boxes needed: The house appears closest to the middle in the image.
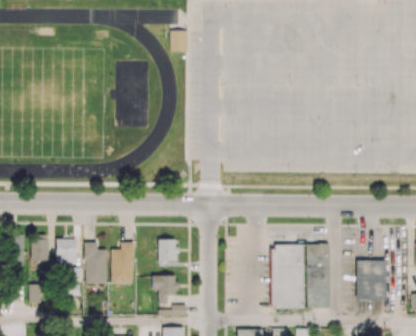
[158,238,179,266]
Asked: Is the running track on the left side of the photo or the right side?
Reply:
left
